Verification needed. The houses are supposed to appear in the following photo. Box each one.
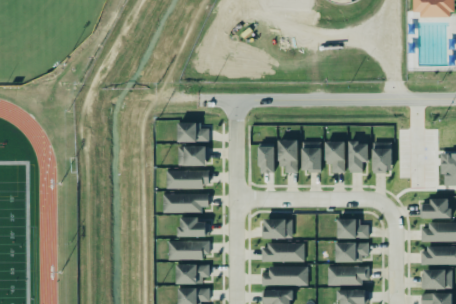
[336,289,366,304]
[277,139,298,172]
[421,292,452,304]
[328,265,370,286]
[166,170,210,189]
[334,242,370,262]
[176,216,206,237]
[258,144,275,172]
[421,268,452,289]
[178,286,210,304]
[262,242,306,262]
[178,145,206,166]
[336,218,370,239]
[348,140,368,172]
[301,142,322,172]
[162,191,210,213]
[262,289,294,304]
[176,122,210,142]
[421,222,456,242]
[324,140,346,172]
[372,142,393,172]
[262,266,309,286]
[168,240,210,260]
[421,245,456,265]
[420,198,452,218]
[176,263,210,284]
[262,218,292,239]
